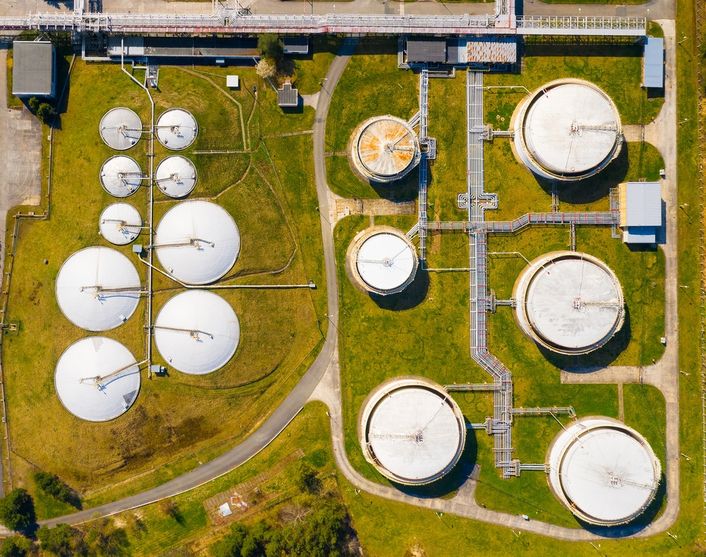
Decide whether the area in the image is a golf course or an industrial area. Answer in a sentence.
This looks like an industrial area.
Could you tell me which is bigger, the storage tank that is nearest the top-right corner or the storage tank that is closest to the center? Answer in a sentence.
Of the two, the storage tank that is nearest the top-right corner is bigger, while the storage tank that is closest to the center is smaller.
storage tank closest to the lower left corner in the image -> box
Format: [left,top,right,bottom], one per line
[55,336,141,422]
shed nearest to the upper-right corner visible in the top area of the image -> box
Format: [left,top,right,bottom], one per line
[641,38,663,90]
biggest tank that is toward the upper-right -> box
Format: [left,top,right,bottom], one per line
[511,77,627,185]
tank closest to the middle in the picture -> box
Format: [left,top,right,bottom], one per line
[346,225,422,298]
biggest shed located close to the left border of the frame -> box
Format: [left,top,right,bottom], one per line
[12,41,60,100]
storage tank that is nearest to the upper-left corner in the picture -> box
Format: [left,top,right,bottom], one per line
[99,108,143,151]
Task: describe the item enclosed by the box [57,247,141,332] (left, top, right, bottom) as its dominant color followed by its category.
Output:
white storage tank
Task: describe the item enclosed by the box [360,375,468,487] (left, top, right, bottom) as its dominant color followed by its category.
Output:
white storage tank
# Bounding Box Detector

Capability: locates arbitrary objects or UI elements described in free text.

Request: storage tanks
[346,225,422,298]
[549,417,667,529]
[156,108,199,151]
[154,199,241,285]
[360,375,468,487]
[511,77,627,185]
[55,336,141,422]
[99,108,143,151]
[57,247,141,332]
[154,290,240,375]
[514,252,627,355]
[347,114,423,190]
[100,155,143,198]
[99,203,143,245]
[155,155,198,198]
